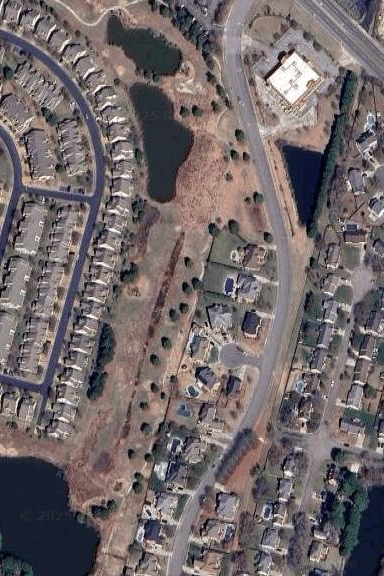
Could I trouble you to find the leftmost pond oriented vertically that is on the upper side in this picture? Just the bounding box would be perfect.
[131,83,195,201]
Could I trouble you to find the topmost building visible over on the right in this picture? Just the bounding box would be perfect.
[267,51,325,105]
